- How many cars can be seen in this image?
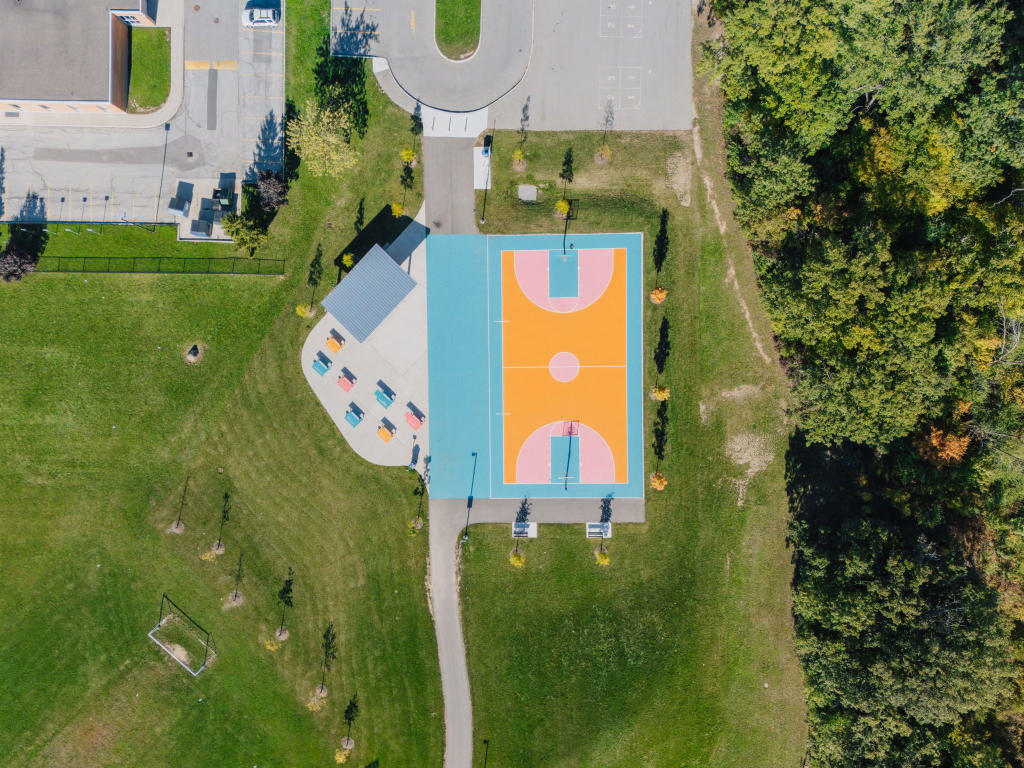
1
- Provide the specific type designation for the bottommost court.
basketball court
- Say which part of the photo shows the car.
top left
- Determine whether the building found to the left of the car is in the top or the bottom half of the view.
top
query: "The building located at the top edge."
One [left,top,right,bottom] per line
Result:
[0,0,156,114]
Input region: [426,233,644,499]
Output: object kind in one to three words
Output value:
basketball court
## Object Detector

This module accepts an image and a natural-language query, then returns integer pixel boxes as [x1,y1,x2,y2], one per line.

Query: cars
[241,7,279,28]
